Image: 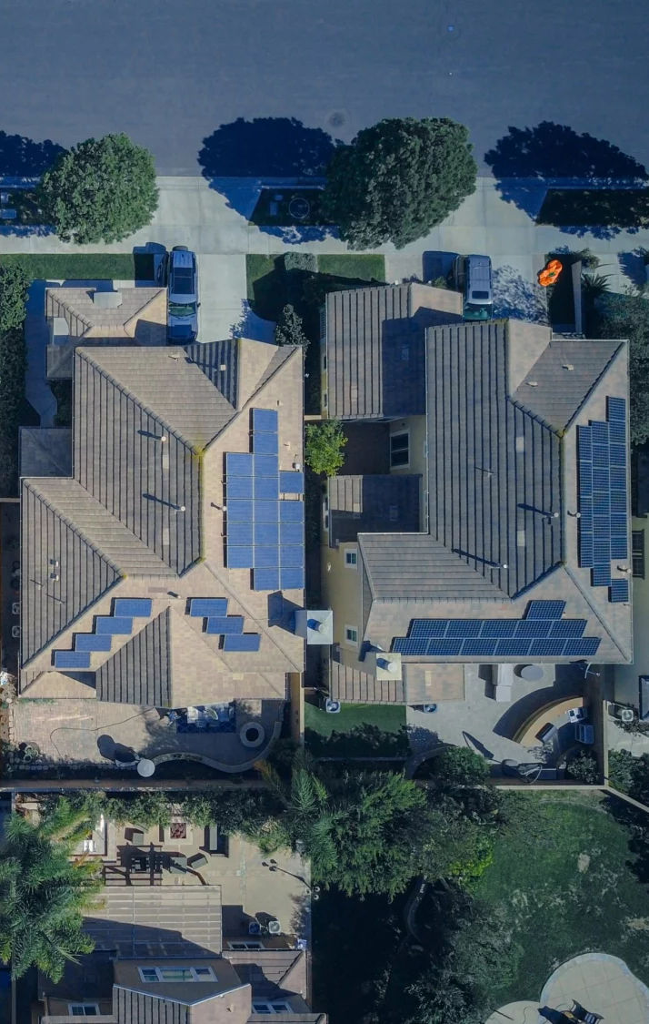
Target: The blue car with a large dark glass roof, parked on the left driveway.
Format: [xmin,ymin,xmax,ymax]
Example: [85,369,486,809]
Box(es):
[159,242,204,345]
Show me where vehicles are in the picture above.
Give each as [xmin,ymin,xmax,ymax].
[446,255,495,323]
[159,242,204,345]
